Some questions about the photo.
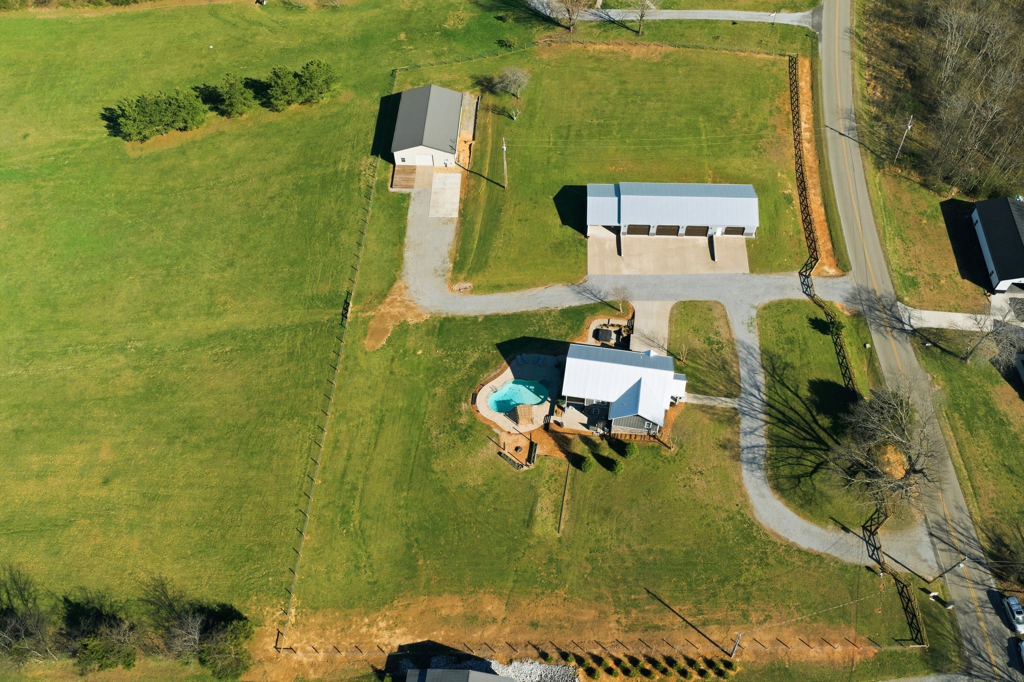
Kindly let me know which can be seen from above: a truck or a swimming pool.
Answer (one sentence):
Of the two, only a swimming pool appears.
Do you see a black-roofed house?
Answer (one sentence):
Yes, a black-roofed house can be made out from above.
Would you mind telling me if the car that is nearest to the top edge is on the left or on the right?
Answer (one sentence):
It is on the right.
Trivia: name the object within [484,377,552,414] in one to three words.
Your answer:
swimming pool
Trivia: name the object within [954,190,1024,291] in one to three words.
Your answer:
house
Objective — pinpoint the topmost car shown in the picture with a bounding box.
[1001,599,1024,642]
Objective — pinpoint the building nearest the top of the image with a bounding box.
[391,84,463,168]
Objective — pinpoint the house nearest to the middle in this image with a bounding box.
[562,345,686,441]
